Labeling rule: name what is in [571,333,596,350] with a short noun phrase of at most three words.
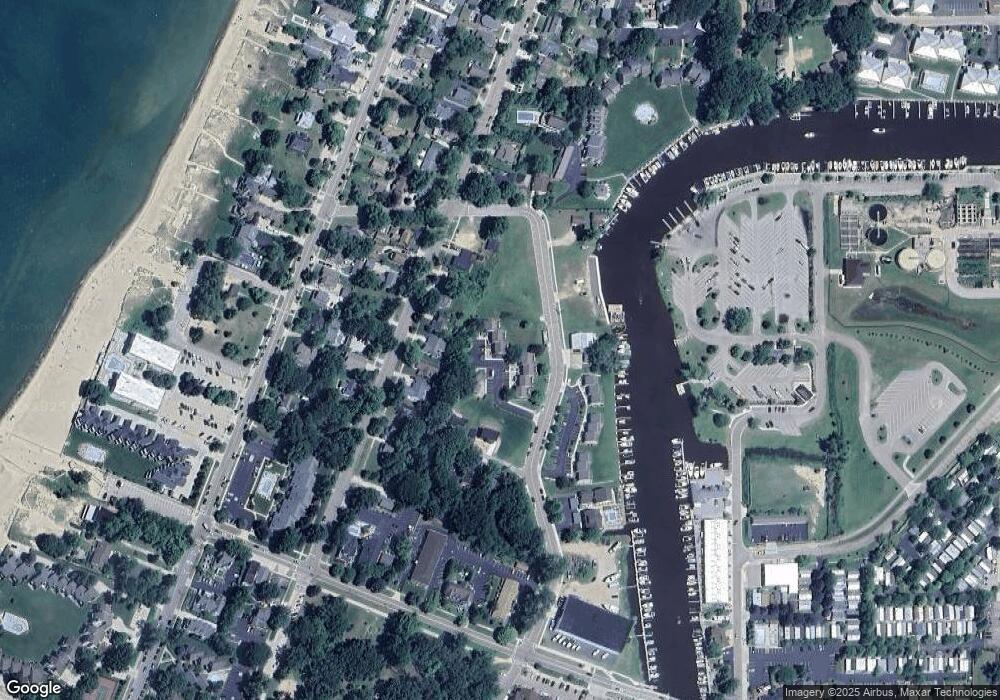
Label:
shed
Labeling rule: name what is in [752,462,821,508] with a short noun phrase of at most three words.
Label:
sports field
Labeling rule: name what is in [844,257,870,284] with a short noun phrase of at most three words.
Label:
building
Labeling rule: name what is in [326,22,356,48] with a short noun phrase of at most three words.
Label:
house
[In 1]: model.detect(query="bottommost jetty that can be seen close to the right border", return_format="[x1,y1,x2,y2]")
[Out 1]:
[702,159,965,190]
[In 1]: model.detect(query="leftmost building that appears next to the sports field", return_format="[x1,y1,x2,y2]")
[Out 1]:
[703,519,729,602]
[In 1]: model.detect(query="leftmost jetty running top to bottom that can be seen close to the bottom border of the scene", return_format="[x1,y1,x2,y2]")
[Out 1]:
[631,531,660,679]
